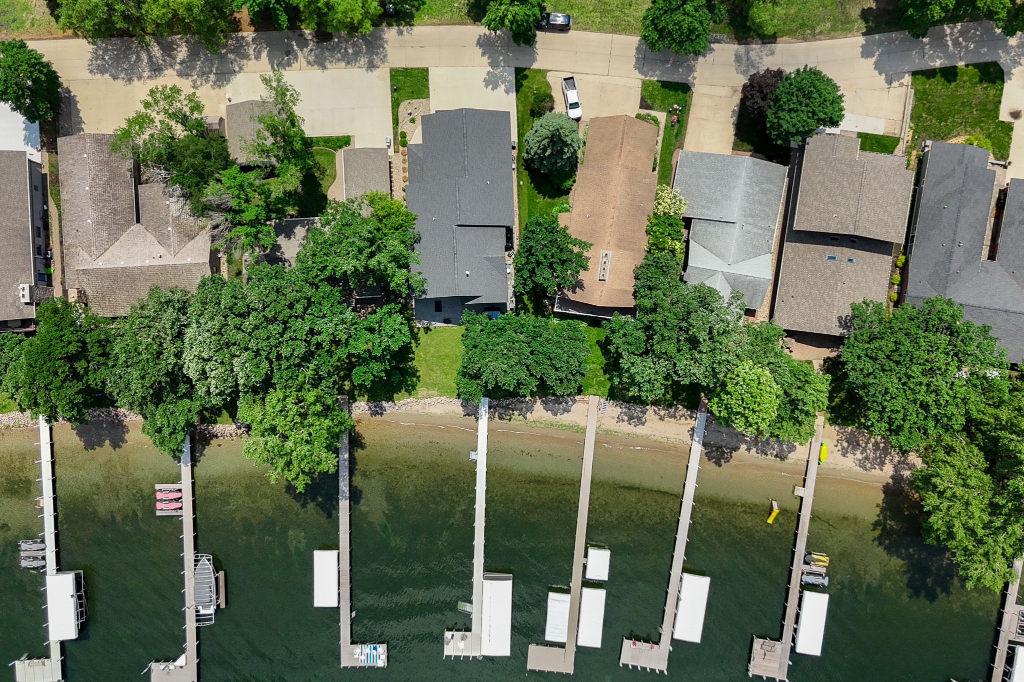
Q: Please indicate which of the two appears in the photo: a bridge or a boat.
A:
boat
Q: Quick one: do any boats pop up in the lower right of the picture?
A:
Yes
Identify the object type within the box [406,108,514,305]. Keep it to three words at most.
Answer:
house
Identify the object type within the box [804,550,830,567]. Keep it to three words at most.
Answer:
boat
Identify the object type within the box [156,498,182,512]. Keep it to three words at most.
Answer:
boat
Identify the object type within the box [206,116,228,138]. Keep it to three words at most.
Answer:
shed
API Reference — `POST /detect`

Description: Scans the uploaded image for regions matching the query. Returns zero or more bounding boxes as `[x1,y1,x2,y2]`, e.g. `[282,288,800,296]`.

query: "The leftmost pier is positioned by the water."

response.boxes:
[11,421,65,682]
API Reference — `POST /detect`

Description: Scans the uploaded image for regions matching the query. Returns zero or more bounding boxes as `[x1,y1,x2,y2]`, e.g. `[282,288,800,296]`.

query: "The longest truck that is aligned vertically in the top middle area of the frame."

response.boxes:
[560,75,584,122]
